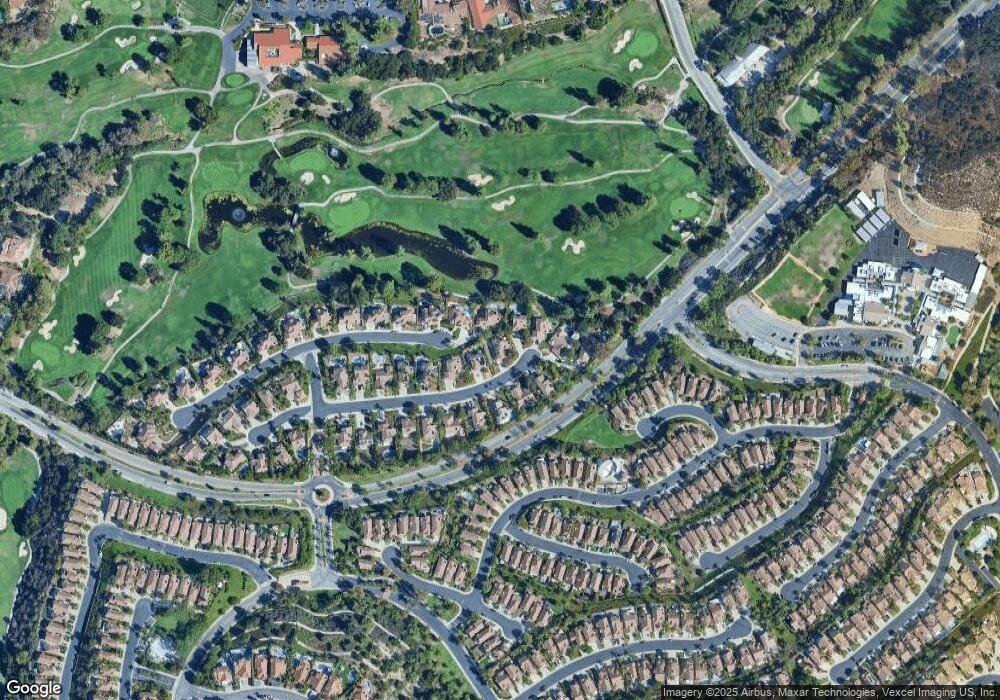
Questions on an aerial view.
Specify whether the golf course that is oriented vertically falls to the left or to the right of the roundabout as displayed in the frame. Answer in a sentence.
Looking at the photo, the golf course that is oriented vertically lies to the left of the roundabout.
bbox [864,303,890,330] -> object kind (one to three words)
building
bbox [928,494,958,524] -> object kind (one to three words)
house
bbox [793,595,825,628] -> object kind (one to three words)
house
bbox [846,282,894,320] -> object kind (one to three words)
building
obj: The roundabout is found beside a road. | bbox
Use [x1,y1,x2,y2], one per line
[302,474,344,515]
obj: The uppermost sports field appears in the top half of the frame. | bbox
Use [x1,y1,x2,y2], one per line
[791,205,863,285]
